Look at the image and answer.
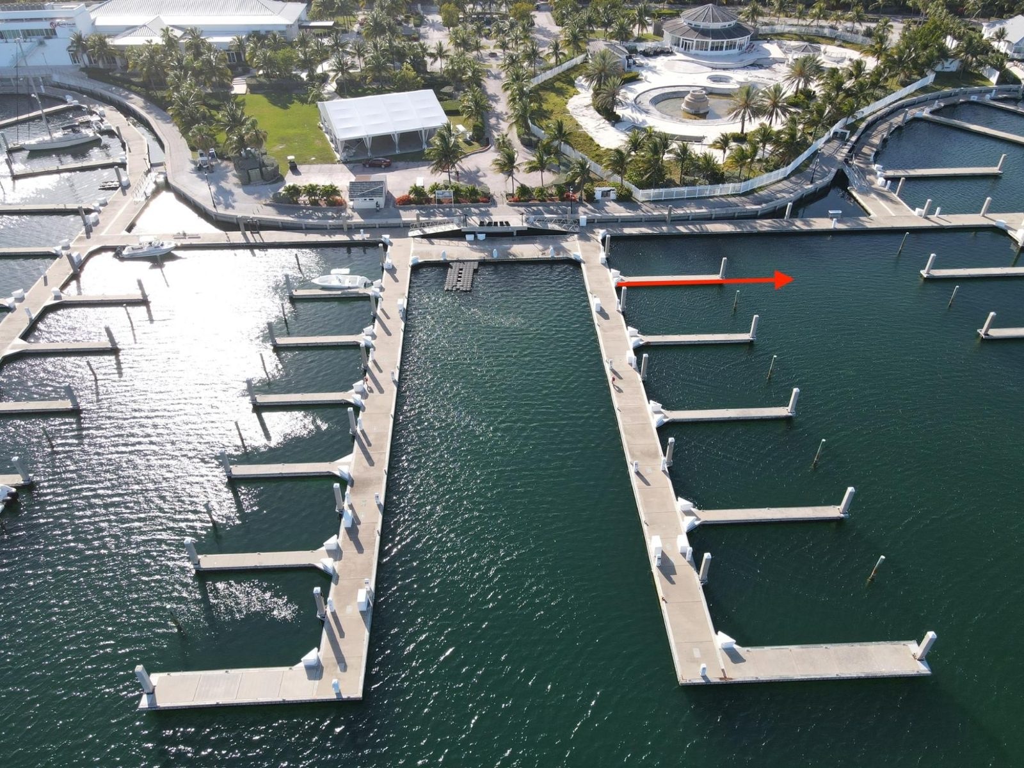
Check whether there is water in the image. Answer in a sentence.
Yes, some water is visible.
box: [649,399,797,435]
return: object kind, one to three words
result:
pier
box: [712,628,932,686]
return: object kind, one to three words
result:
pier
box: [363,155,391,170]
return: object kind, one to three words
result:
car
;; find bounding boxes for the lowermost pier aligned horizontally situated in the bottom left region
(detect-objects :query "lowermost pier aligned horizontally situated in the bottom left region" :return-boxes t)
[139,644,322,712]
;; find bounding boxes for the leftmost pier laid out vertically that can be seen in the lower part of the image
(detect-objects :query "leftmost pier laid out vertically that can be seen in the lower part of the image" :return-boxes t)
[314,239,409,704]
